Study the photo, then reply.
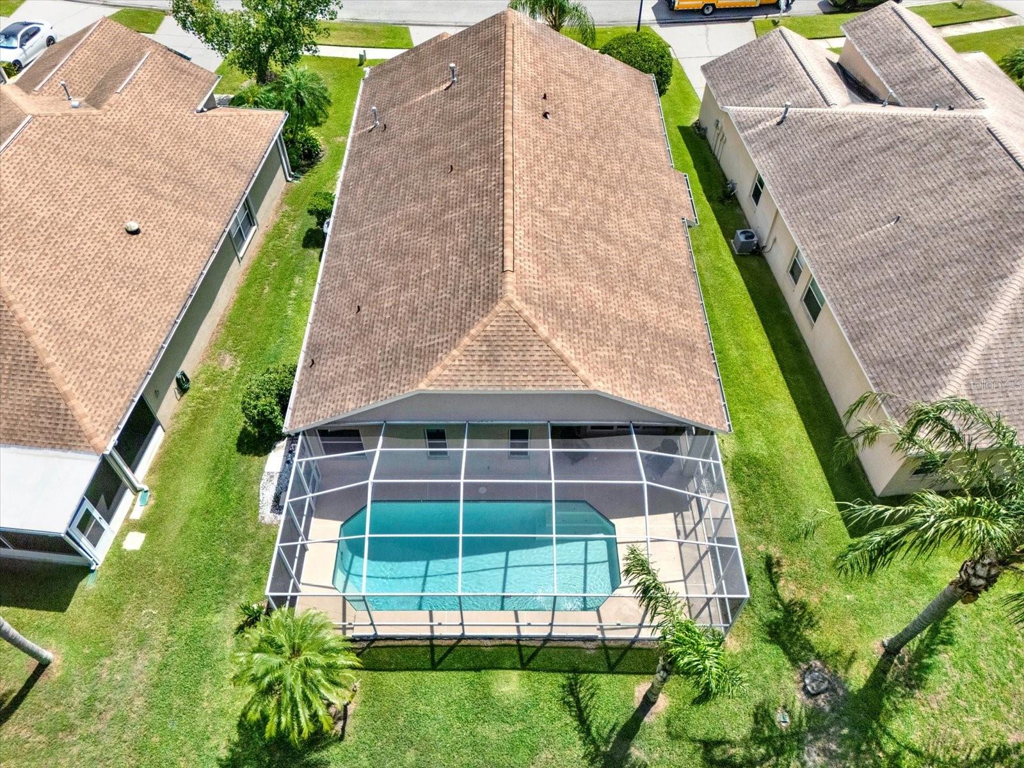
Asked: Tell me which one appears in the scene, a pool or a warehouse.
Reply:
pool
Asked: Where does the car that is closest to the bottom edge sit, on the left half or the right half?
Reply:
left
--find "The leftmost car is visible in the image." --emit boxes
[0,18,58,64]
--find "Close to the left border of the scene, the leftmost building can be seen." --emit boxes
[0,17,298,582]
